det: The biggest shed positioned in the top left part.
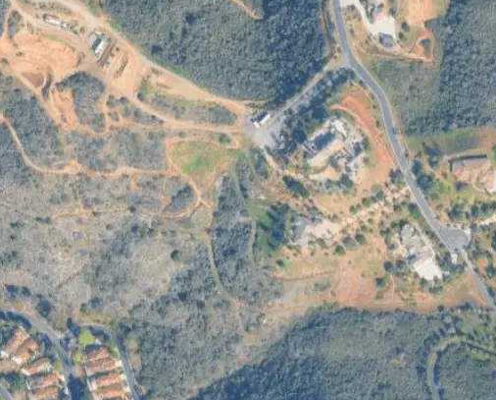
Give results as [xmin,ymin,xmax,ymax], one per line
[87,31,117,54]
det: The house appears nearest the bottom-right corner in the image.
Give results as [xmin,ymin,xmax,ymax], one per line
[392,217,429,266]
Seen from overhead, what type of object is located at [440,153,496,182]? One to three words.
house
